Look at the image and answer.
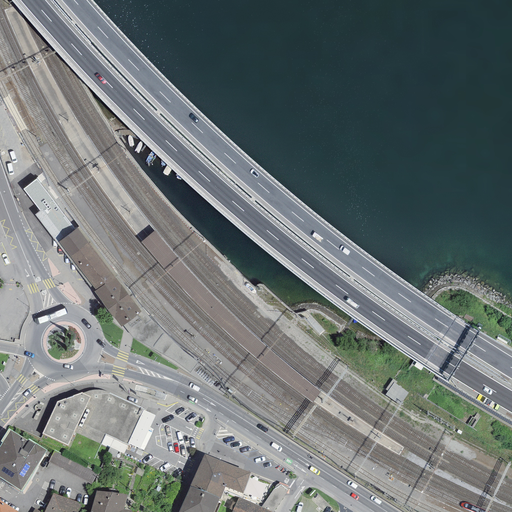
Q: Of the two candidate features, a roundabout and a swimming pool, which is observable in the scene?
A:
roundabout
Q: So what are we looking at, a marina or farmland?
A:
marina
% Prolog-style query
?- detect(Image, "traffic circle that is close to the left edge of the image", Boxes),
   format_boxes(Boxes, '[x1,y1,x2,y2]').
[22,300,104,382]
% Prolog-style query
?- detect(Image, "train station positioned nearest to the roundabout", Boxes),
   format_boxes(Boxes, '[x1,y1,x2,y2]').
[57,228,140,326]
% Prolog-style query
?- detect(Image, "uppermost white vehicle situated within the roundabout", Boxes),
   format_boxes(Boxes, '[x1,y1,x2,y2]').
[36,307,68,324]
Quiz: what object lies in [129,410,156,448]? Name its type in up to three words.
building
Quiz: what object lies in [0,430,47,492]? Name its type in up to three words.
house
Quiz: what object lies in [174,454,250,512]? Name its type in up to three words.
house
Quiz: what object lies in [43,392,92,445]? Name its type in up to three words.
building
